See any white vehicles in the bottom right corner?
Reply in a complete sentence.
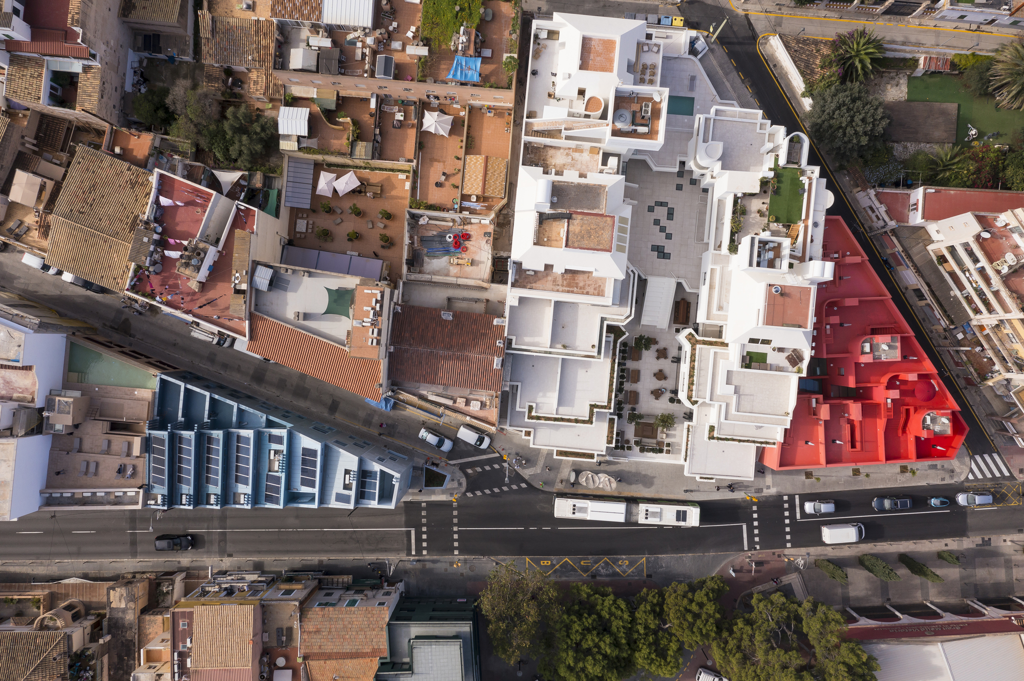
Yes, the scene does show a white vehicle in the bottom right corner.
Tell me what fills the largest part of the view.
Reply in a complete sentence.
What you mostly see from above here is buildings.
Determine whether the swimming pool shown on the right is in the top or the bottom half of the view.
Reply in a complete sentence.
It is in the top half that the swimming pool shown on the right appears.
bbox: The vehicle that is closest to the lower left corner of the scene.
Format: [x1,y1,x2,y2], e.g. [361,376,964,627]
[152,535,193,554]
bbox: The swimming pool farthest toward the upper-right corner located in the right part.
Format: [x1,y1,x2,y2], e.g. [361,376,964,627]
[667,95,695,116]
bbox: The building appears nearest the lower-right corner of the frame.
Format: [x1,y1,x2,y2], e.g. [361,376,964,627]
[812,594,1024,681]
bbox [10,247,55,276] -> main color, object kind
white van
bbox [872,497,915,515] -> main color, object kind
black vehicle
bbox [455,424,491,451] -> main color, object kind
white vehicle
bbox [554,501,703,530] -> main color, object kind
white bus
